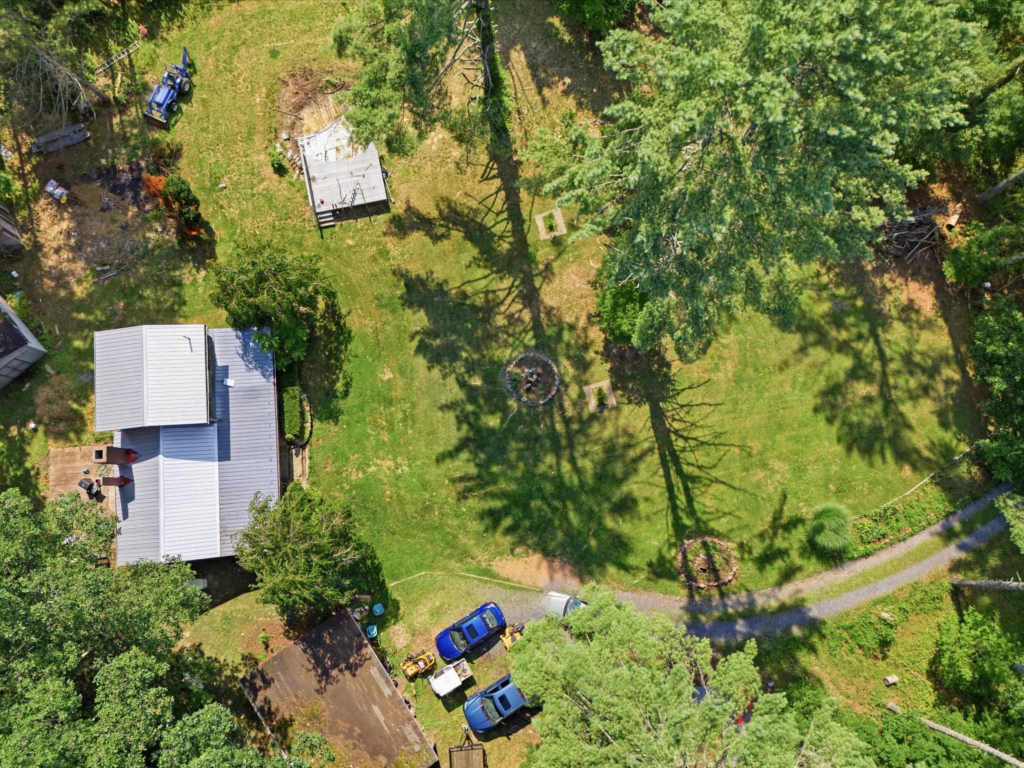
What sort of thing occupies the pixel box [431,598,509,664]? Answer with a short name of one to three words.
car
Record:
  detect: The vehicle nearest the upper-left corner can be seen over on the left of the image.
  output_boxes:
[138,49,200,135]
